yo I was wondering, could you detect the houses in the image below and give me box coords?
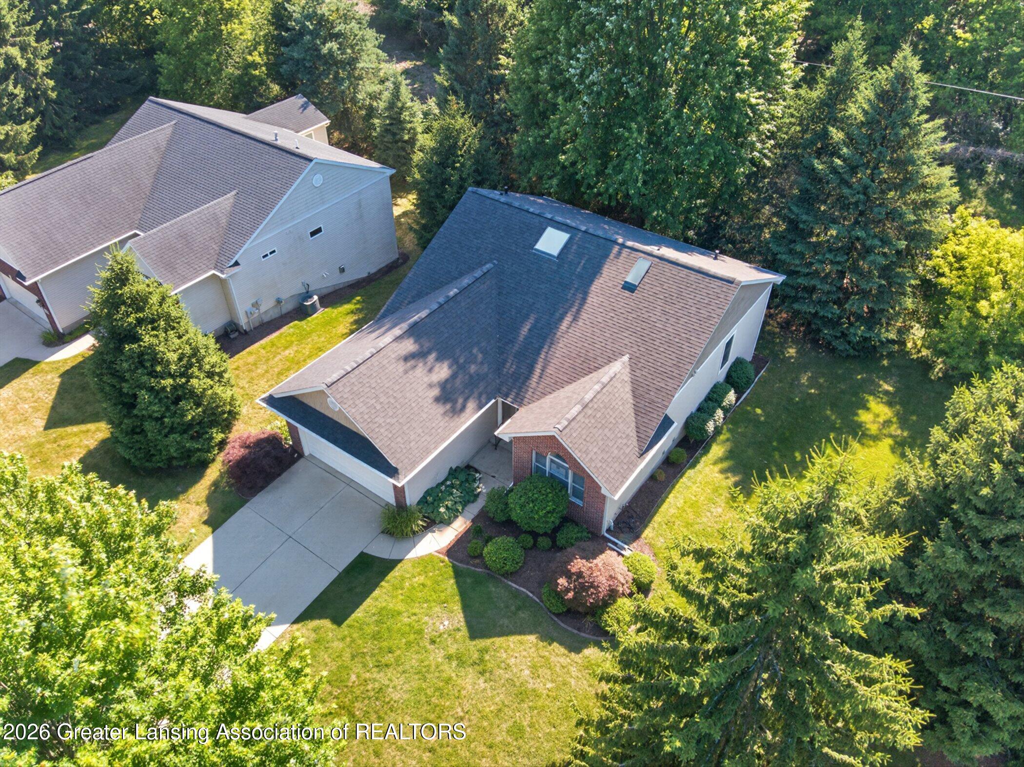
[253,184,787,553]
[0,94,396,346]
